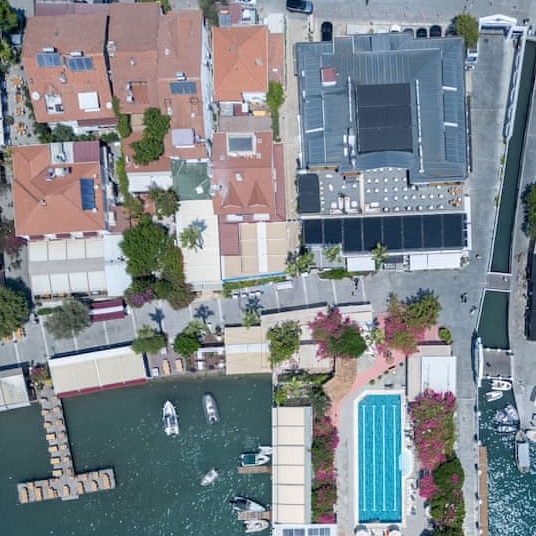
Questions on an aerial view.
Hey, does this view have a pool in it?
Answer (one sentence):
Yes, a pool appears in the view.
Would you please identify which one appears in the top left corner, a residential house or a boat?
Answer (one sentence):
You can see a residential house in the top left corner.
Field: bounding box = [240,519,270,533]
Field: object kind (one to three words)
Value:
boat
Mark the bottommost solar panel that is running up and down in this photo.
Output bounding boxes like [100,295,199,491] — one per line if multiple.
[81,179,97,211]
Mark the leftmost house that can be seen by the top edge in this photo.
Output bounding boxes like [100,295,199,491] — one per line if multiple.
[21,2,126,133]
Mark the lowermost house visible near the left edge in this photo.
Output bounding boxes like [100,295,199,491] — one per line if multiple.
[11,142,115,239]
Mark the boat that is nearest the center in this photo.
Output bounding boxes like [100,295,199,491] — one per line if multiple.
[202,393,221,427]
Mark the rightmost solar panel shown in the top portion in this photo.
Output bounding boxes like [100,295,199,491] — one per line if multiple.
[169,82,197,96]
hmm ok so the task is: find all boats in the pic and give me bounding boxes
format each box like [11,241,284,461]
[201,468,220,483]
[503,401,518,424]
[490,409,509,426]
[202,393,221,427]
[163,401,179,439]
[227,493,266,512]
[525,432,536,443]
[240,519,270,533]
[486,380,513,391]
[515,433,530,474]
[480,392,505,403]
